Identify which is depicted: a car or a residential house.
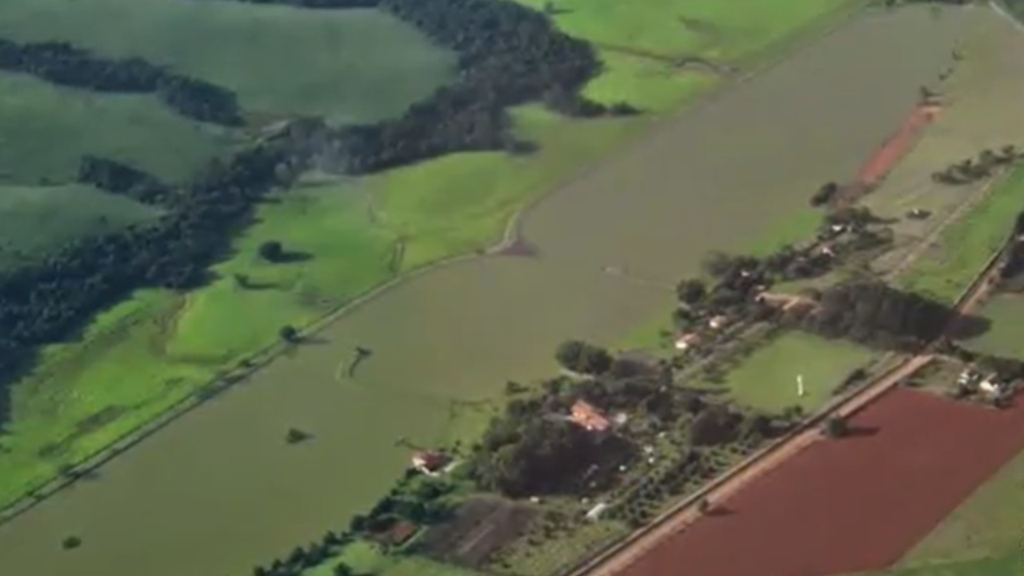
residential house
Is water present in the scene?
Yes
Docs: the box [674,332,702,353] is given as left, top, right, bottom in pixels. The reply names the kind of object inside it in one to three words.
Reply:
house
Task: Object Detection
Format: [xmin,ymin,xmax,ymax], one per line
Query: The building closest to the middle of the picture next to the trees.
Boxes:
[568,400,614,434]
